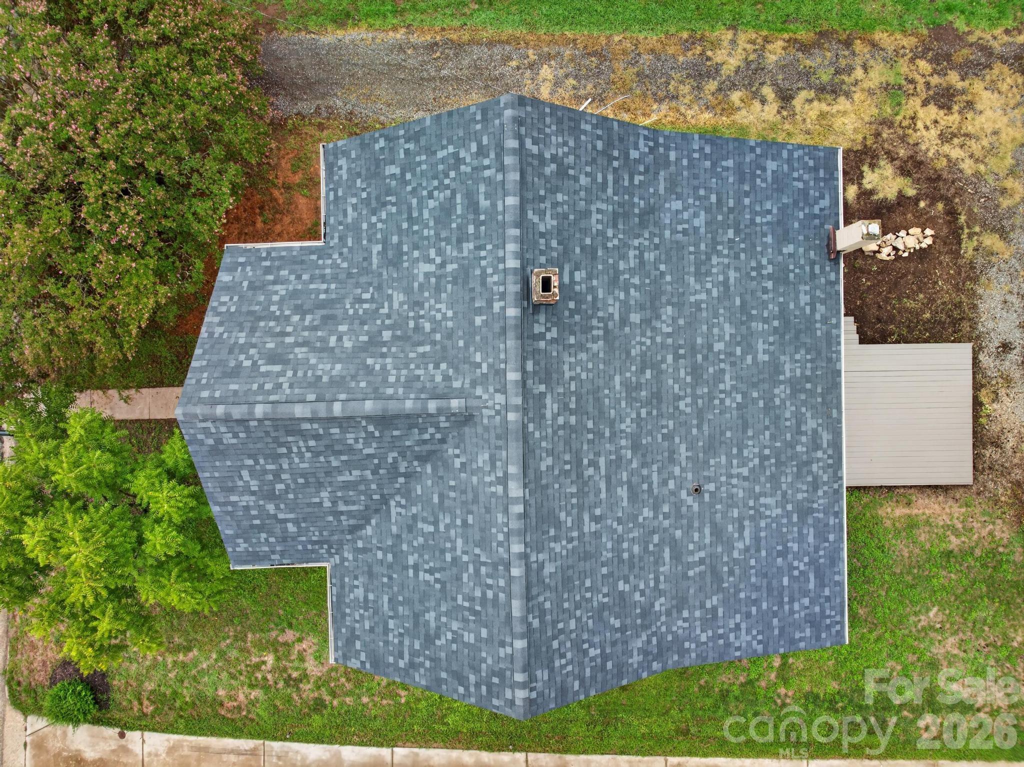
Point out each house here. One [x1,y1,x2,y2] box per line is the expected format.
[176,93,880,723]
